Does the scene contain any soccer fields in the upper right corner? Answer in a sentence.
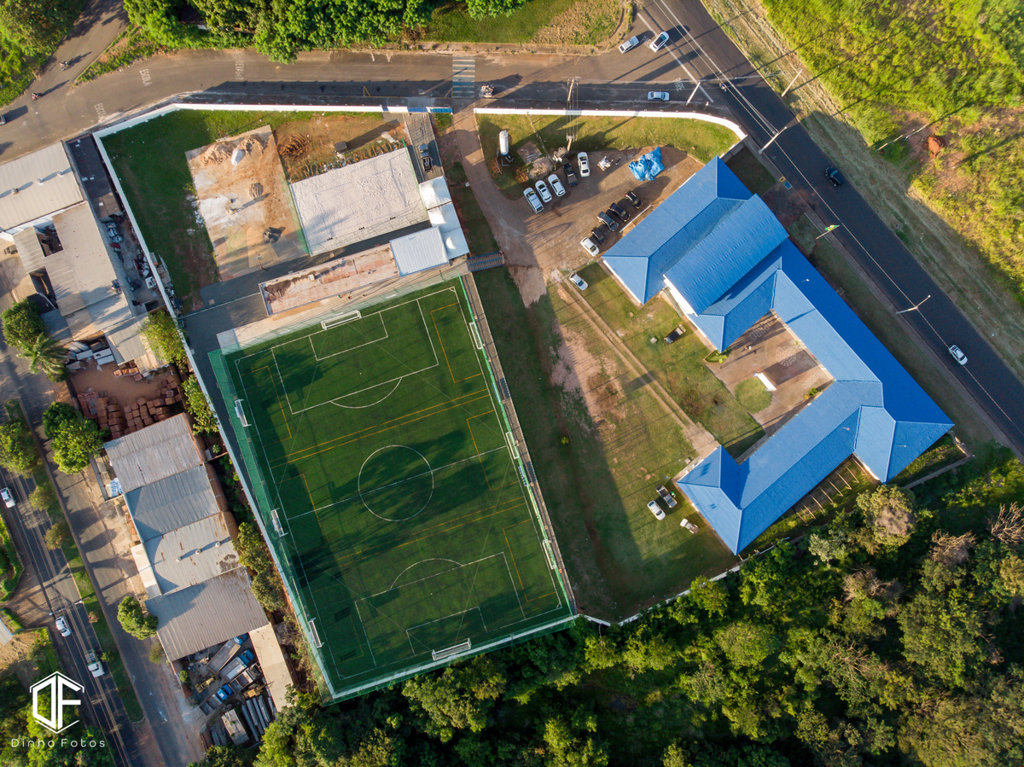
No, no soccer field can be made out in the upper right corner.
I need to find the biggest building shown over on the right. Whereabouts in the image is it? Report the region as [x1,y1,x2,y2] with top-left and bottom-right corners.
[602,155,955,555]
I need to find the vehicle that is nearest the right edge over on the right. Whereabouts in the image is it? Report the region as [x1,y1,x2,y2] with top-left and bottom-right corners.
[946,343,968,367]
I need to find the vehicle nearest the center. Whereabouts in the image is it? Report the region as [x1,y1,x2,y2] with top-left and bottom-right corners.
[568,270,589,293]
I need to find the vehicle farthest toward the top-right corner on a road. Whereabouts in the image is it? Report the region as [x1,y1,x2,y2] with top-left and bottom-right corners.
[822,165,845,188]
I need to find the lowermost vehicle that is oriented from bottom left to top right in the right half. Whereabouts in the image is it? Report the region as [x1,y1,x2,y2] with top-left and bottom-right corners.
[662,321,689,346]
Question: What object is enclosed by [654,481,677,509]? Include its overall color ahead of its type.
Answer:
gray truck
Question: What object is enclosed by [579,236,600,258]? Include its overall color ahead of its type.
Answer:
white car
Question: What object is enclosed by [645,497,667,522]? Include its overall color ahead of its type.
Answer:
white car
